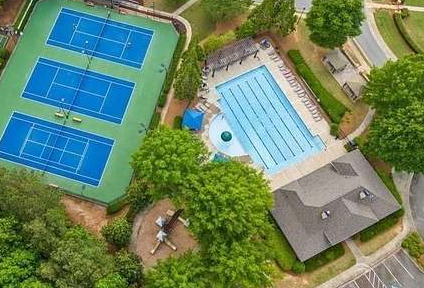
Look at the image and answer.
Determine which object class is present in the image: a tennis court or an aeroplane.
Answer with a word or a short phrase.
tennis court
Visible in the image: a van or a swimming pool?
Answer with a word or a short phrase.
swimming pool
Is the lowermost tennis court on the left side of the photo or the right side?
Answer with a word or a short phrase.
left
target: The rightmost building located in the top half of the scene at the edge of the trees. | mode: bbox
[340,76,370,102]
